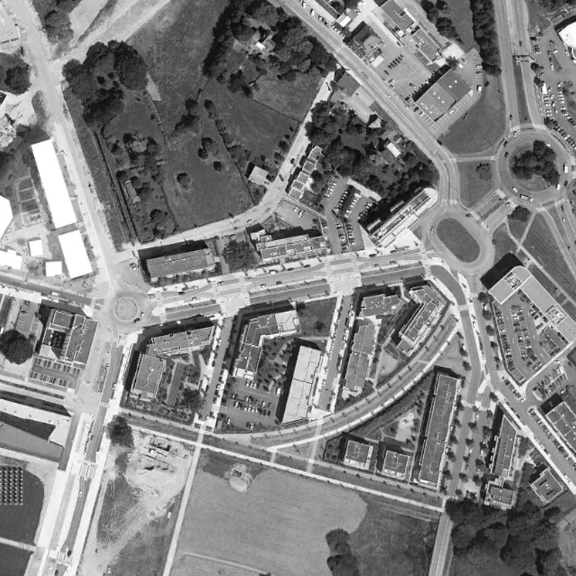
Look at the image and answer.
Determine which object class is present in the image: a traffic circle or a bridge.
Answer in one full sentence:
I can see a traffic circle in this picture.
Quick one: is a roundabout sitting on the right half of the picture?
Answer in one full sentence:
Yes, a roundabout is visible on the right half of the picture.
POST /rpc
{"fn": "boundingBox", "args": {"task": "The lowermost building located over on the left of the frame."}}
[0,399,71,446]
